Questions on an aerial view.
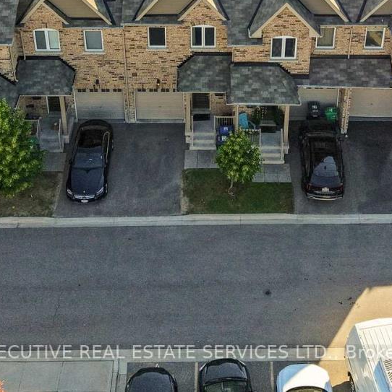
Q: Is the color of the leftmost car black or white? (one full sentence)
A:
From above, the leftmost car appears black.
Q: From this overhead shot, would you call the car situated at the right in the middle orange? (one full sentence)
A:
No, the color of the car situated at the right in the middle is black.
